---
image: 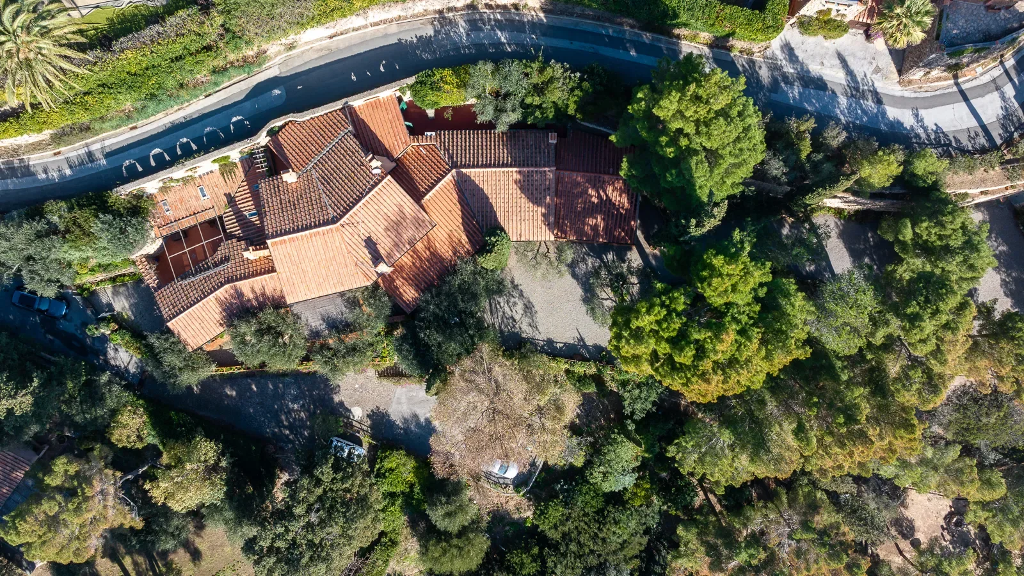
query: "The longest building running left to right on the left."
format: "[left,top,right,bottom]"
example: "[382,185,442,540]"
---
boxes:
[133,94,640,350]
